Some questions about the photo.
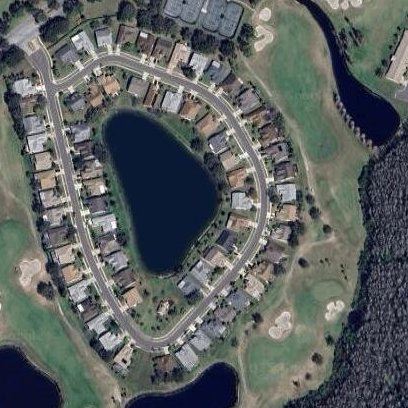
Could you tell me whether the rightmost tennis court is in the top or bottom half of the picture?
top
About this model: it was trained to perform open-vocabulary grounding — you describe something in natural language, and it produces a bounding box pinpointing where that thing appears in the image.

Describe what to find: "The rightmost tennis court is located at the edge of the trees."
[220,0,247,38]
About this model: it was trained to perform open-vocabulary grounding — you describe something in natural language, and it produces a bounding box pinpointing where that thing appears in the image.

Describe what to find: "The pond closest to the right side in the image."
[298,0,399,144]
